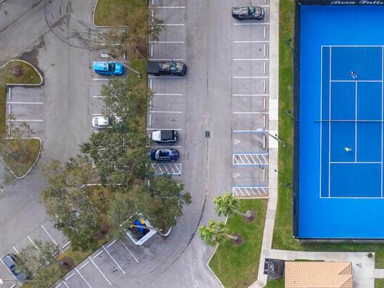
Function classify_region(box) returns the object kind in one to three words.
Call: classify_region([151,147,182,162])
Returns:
car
